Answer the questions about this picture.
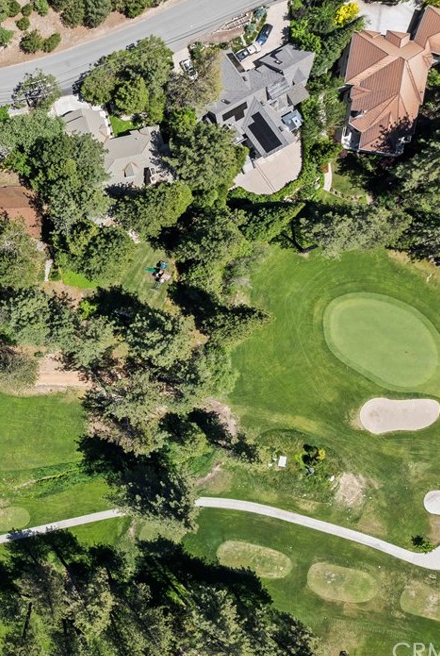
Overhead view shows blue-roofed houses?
No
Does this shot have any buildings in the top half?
Yes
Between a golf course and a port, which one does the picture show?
golf course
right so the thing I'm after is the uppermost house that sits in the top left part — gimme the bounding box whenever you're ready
[60,109,171,188]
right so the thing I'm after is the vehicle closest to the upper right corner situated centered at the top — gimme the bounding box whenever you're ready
[257,19,275,44]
